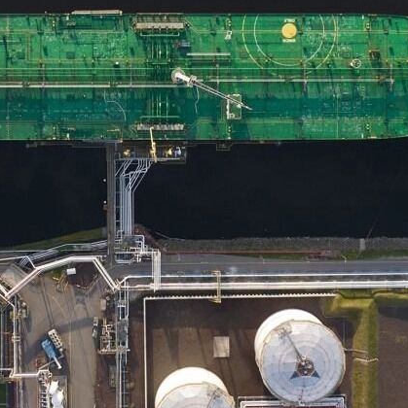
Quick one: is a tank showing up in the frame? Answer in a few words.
Yes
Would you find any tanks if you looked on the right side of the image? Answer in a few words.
Yes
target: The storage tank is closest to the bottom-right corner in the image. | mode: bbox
[254,309,345,408]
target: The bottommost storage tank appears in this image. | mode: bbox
[155,367,232,408]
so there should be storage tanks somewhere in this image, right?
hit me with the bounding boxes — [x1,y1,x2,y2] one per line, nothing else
[254,309,345,408]
[155,367,232,408]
